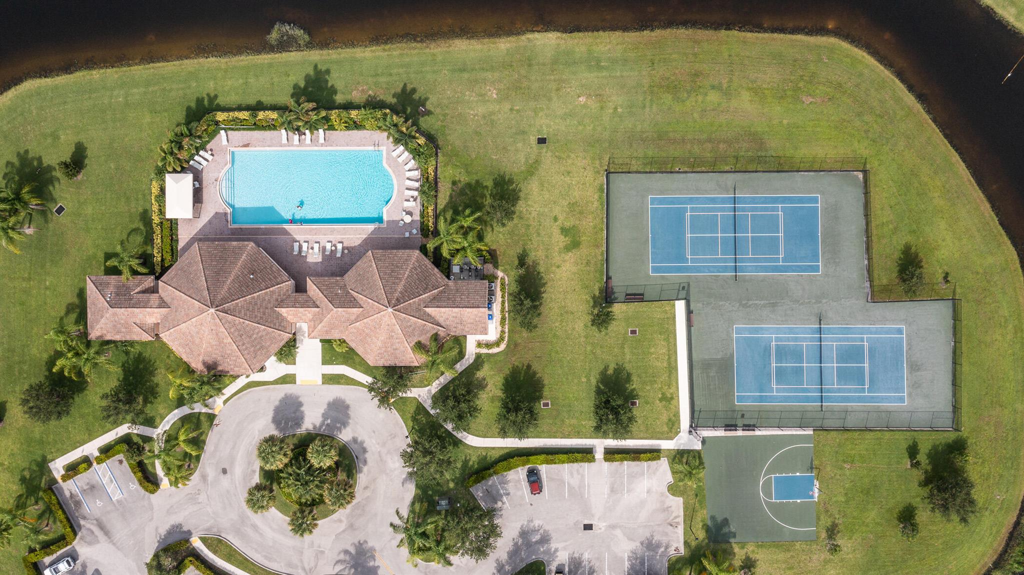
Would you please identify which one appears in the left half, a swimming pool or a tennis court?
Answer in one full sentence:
It is a swimming pool that can be seen in the left half.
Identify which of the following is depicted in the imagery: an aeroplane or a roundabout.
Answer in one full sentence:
It is a roundabout that can be seen here.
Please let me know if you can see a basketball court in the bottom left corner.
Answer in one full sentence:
No, the scene shows no basketball court in the bottom left corner.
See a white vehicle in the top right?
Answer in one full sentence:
No, I can find no white vehicle in the top right.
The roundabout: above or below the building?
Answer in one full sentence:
As seen from overhead, the roundabout falls below the building in the picture.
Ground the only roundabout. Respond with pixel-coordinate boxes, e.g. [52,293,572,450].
[257,430,360,522]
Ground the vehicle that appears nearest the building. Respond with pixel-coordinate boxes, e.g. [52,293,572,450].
[526,466,542,496]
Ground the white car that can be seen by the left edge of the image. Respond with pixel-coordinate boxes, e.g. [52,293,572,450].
[43,555,77,575]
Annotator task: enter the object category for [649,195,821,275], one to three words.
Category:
tennis court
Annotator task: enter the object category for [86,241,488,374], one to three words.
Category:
building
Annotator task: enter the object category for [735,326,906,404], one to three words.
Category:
tennis court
